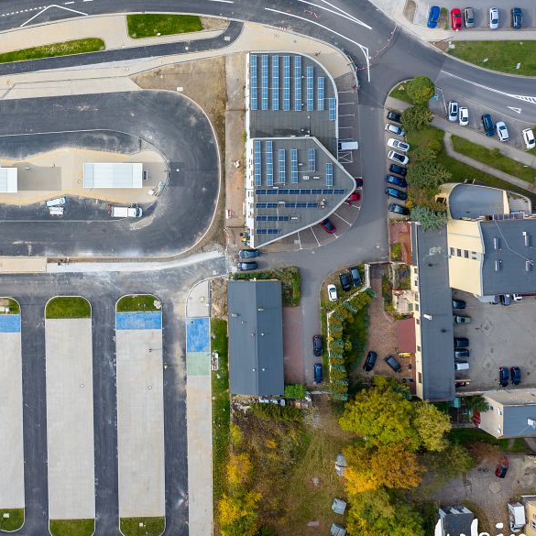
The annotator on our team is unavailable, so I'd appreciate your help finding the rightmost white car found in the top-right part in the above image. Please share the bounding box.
[521,128,535,149]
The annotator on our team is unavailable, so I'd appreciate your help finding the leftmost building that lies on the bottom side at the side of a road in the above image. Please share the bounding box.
[224,278,285,397]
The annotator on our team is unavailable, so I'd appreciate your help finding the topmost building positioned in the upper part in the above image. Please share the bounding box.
[242,52,339,160]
